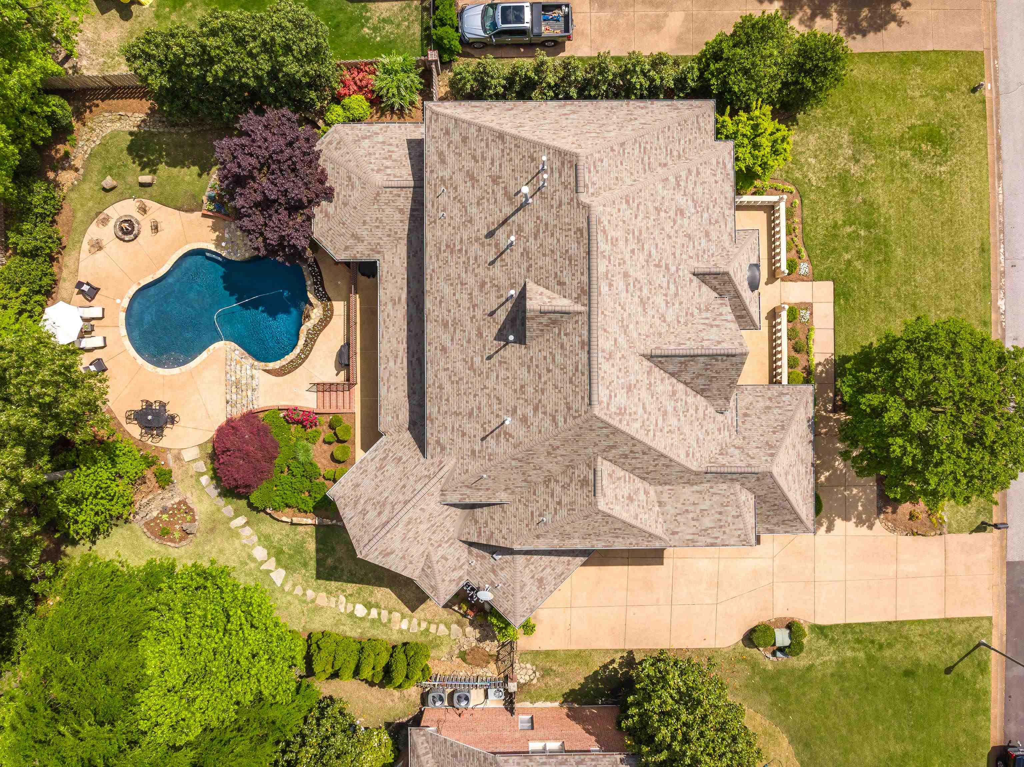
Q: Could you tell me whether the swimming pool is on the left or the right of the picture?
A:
left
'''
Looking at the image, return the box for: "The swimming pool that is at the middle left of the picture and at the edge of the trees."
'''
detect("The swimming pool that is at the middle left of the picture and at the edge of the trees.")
[112,238,323,376]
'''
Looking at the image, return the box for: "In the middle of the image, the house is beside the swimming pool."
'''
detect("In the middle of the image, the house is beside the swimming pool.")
[310,97,817,630]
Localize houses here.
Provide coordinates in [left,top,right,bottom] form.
[407,706,694,767]
[310,97,817,630]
